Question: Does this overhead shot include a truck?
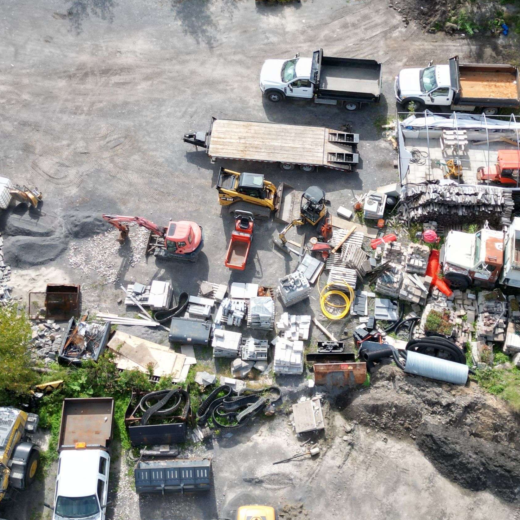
Yes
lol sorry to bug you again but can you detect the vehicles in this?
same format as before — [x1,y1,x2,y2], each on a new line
[475,140,520,180]
[280,191,340,244]
[102,214,213,272]
[0,401,48,520]
[36,394,122,520]
[394,54,520,120]
[213,163,308,226]
[226,202,254,266]
[427,207,520,282]
[254,47,377,113]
